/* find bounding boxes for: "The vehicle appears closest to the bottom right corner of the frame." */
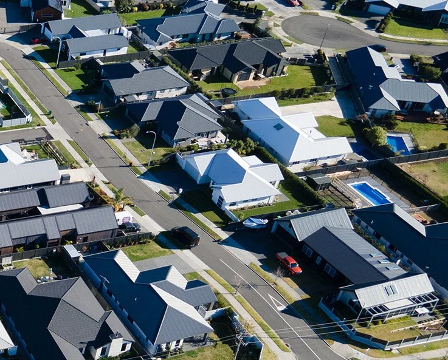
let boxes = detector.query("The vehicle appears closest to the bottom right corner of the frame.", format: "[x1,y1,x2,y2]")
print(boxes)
[272,252,306,278]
